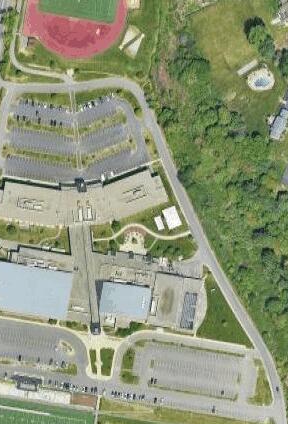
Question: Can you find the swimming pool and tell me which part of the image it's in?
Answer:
top right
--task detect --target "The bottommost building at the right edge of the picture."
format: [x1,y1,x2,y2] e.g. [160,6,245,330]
[270,108,288,139]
